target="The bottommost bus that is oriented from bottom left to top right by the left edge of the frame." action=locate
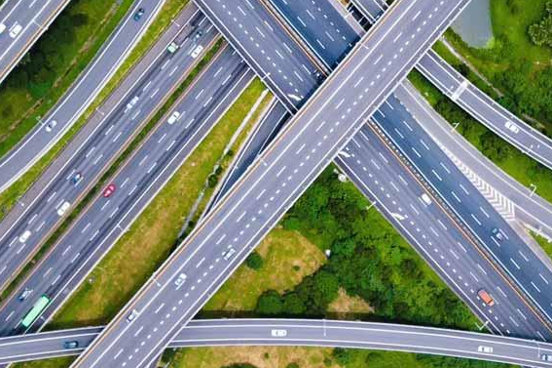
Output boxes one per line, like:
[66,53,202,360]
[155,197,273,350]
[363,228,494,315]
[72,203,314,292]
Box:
[21,296,49,328]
